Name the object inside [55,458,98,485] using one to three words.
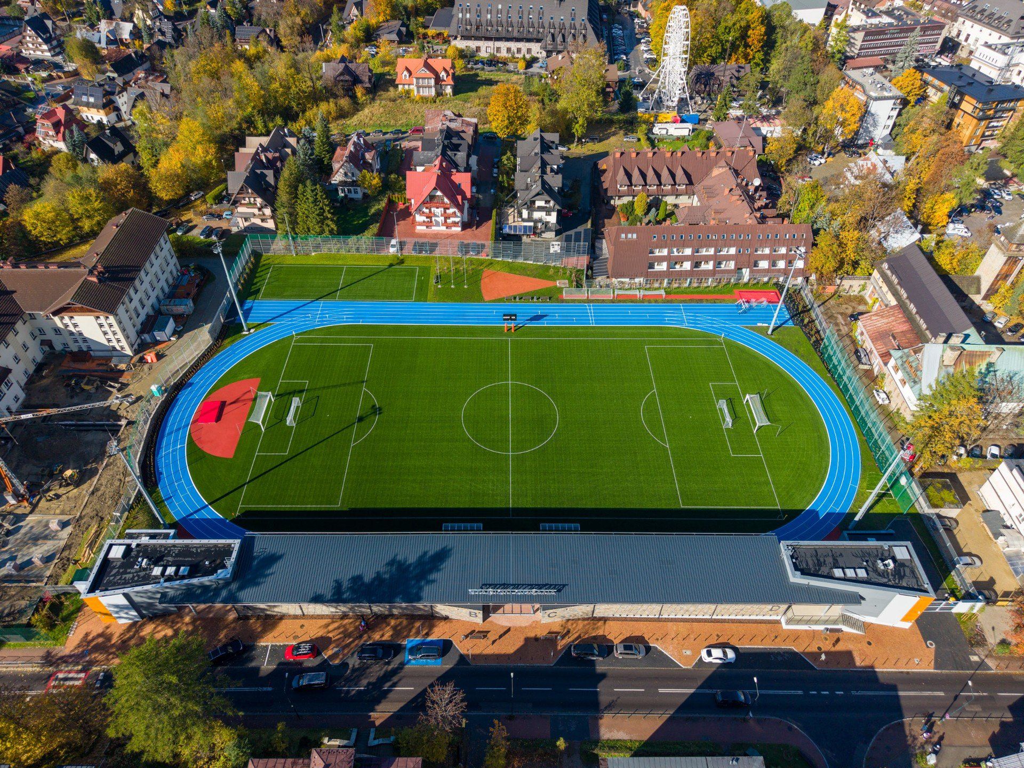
work vehicle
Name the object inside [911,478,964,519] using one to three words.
building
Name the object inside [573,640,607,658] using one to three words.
car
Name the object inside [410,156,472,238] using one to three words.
house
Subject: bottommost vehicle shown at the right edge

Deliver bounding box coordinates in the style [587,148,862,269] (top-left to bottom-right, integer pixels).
[967,586,1003,602]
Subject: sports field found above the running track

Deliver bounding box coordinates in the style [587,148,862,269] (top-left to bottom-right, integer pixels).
[248,265,431,302]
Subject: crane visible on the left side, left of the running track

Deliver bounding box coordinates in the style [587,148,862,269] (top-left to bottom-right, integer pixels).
[0,394,132,510]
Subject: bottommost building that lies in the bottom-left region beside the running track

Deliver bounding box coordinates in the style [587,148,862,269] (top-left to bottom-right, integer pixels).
[81,539,245,622]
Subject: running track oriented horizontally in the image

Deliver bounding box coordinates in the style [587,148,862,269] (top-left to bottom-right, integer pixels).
[157,301,859,547]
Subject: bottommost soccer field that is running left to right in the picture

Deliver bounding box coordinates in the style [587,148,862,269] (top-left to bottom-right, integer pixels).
[187,324,829,534]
